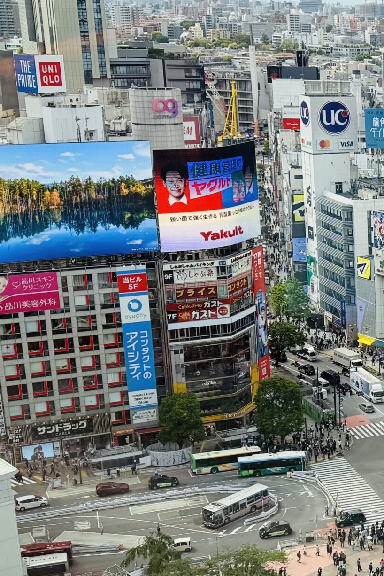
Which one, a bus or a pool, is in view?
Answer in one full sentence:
Of the two, only a bus appears.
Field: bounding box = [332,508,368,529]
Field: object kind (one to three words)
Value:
car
